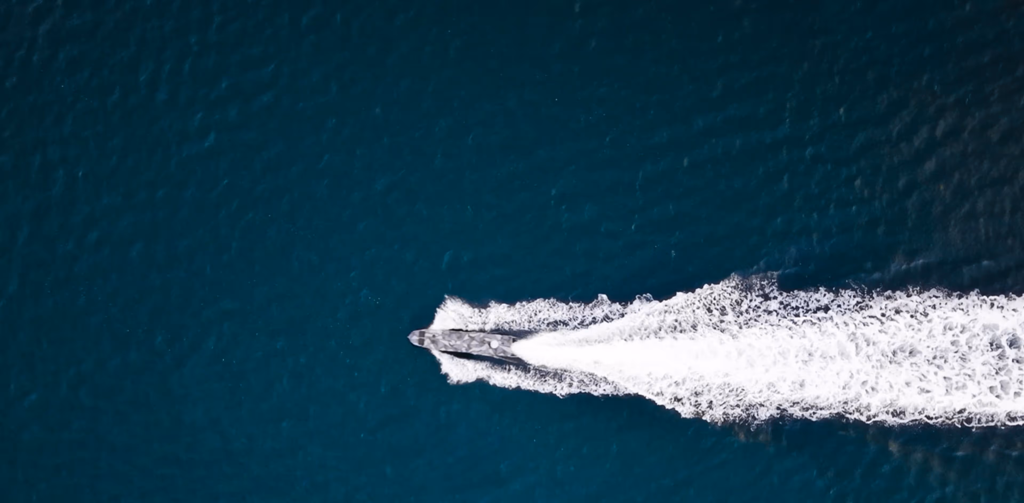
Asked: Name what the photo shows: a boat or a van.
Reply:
boat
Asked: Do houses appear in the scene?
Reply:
No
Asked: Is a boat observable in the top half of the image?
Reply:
No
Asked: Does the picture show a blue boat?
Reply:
No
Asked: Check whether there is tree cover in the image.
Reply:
No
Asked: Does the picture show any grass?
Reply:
No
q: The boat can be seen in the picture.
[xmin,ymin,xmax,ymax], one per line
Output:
[406,329,516,356]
